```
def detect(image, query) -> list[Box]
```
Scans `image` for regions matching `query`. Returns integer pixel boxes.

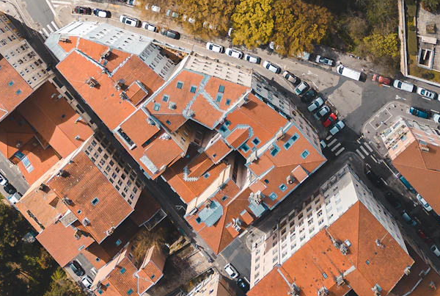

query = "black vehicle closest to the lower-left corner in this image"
[70,259,85,276]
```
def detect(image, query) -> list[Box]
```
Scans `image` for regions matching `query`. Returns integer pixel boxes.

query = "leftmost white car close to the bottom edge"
[80,273,95,290]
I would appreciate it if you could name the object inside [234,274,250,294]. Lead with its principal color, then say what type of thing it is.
black car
